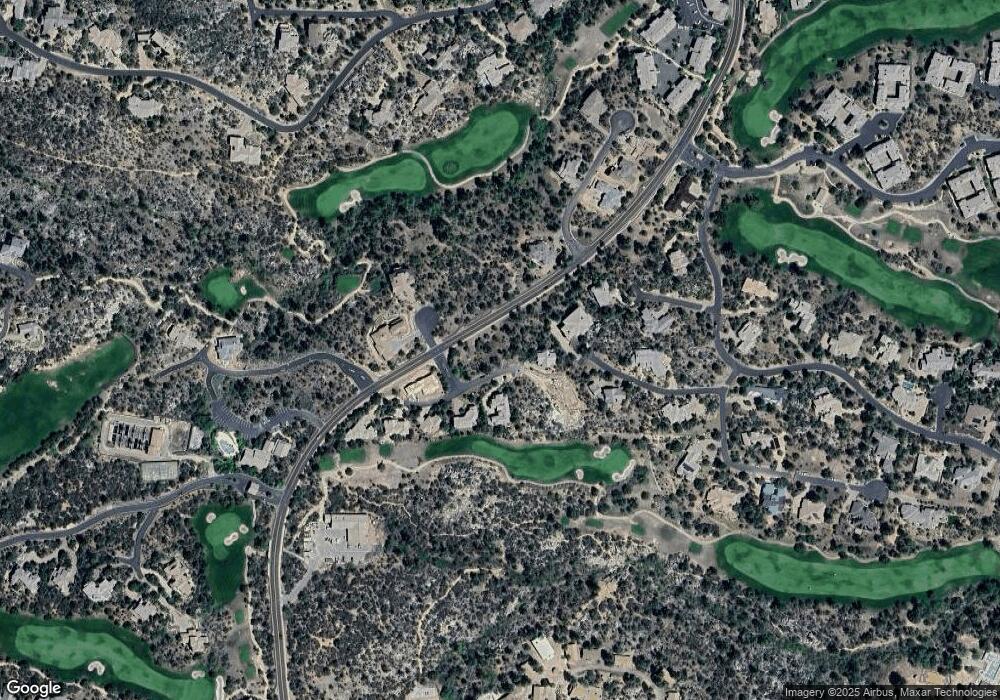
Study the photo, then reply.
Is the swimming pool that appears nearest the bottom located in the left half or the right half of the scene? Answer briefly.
left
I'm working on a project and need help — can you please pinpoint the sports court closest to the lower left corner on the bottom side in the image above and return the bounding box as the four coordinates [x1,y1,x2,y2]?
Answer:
[142,461,178,481]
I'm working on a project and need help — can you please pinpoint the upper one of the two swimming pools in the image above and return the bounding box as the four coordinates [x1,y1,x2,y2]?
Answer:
[898,377,918,391]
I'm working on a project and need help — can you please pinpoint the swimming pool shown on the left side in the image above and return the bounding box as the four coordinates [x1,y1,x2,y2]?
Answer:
[215,431,238,457]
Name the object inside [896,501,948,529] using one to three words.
house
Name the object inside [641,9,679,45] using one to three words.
building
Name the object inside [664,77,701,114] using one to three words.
building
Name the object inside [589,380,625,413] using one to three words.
house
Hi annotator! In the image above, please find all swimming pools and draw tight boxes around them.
[898,377,918,391]
[215,431,238,457]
